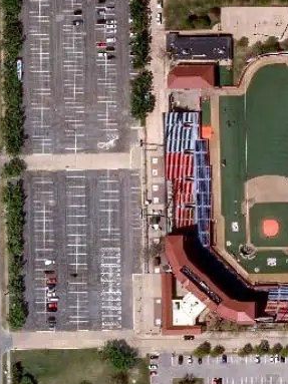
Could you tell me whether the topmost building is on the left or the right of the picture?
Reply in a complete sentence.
It is on the right.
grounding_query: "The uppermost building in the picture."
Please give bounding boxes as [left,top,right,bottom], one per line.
[166,34,234,60]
